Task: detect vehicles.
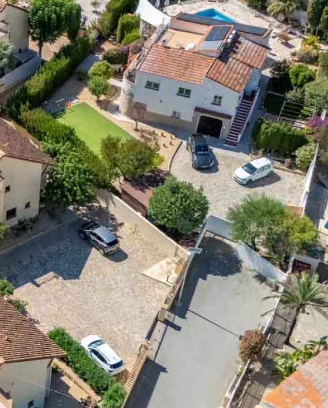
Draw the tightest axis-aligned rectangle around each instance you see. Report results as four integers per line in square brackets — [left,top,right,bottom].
[232,156,278,185]
[74,331,131,380]
[187,134,216,170]
[75,220,125,256]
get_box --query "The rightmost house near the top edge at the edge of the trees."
[131,12,269,136]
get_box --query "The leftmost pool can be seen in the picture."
[190,5,252,39]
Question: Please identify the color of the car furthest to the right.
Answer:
white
